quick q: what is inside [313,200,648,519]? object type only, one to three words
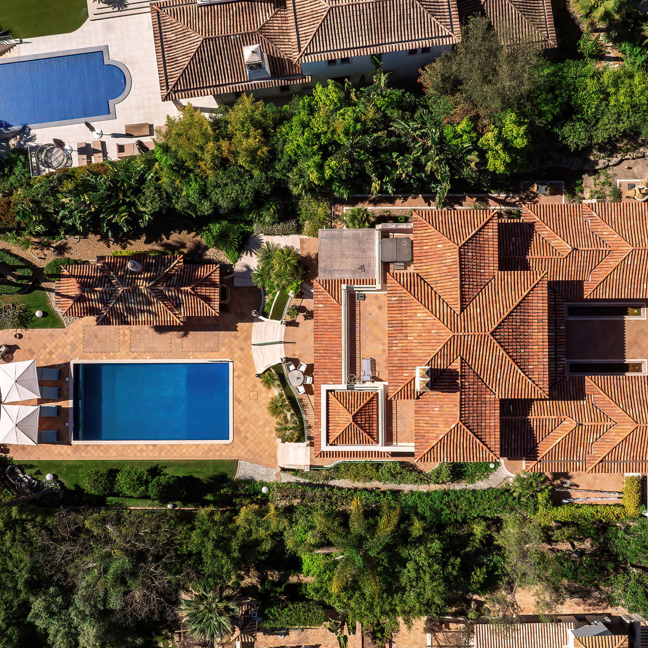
house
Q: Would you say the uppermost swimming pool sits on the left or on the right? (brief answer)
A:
left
